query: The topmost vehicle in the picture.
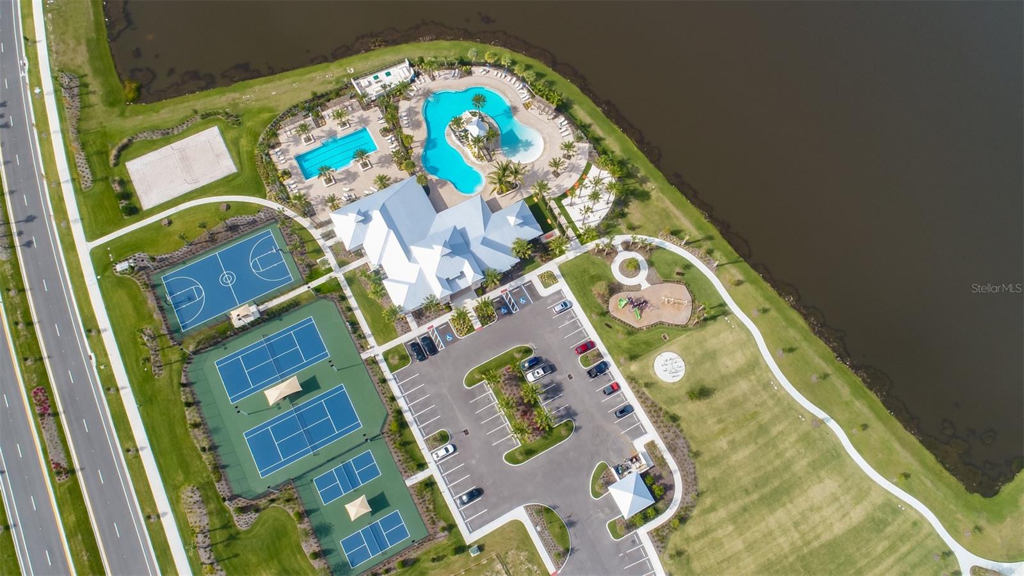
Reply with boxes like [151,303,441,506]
[554,300,573,313]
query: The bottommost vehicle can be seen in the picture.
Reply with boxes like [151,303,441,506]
[460,488,481,504]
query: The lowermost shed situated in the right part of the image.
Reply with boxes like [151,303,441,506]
[607,473,655,516]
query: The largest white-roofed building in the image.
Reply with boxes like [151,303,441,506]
[329,175,543,314]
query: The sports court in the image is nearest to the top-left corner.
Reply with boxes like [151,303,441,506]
[125,126,238,211]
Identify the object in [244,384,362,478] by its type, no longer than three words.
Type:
tennis court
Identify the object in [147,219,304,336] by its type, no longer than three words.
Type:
basketball court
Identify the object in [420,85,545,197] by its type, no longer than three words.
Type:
swimming pool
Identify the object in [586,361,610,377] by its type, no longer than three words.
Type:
vehicle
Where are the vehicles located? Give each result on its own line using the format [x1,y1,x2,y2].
[421,335,436,355]
[554,300,573,313]
[600,380,624,397]
[528,363,551,380]
[433,444,454,460]
[460,488,481,504]
[523,354,540,369]
[586,361,610,377]
[615,403,635,418]
[410,341,425,360]
[576,340,595,354]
